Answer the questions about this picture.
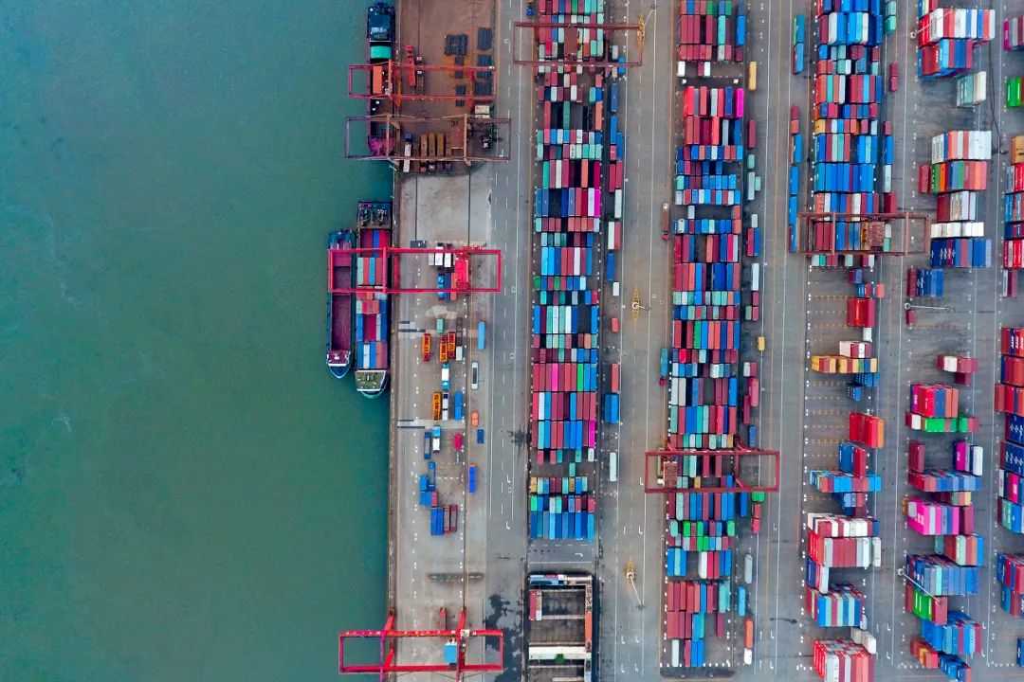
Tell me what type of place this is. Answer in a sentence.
It's a port.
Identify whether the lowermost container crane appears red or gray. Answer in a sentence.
The color of the lowermost container crane is red.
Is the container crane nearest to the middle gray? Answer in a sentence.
No, the color of the container crane nearest to the middle is red.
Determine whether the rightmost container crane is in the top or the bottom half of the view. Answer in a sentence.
The top half of the photo is where the rightmost container crane is.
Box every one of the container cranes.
[514,19,642,82]
[797,209,929,257]
[344,111,511,173]
[347,57,500,117]
[644,441,780,495]
[338,603,529,682]
[327,245,502,297]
